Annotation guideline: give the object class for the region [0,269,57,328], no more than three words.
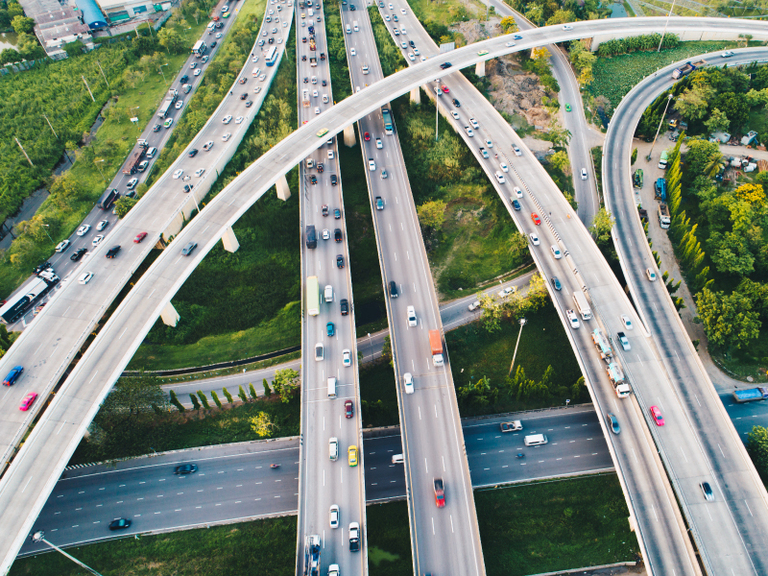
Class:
truck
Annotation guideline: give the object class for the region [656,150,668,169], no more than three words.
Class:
vehicle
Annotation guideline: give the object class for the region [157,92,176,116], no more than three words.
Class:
vehicle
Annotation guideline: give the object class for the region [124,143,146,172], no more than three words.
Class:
truck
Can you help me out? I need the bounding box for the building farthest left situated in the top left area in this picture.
[17,0,90,59]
